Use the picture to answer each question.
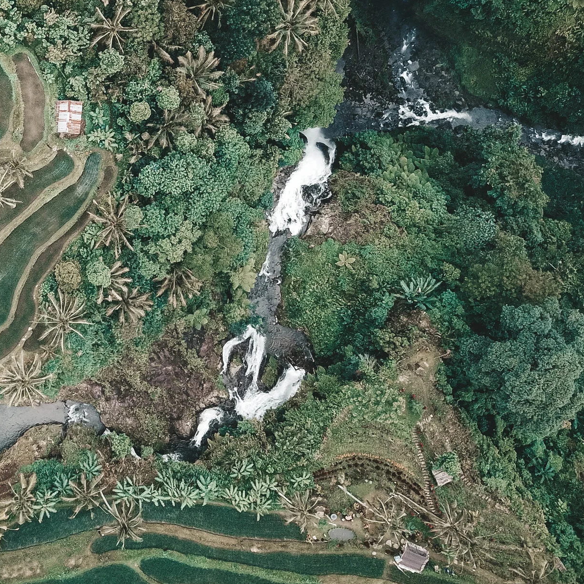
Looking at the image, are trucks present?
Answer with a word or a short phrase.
No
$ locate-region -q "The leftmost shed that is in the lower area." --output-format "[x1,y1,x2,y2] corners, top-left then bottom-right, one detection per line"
[398,541,428,570]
